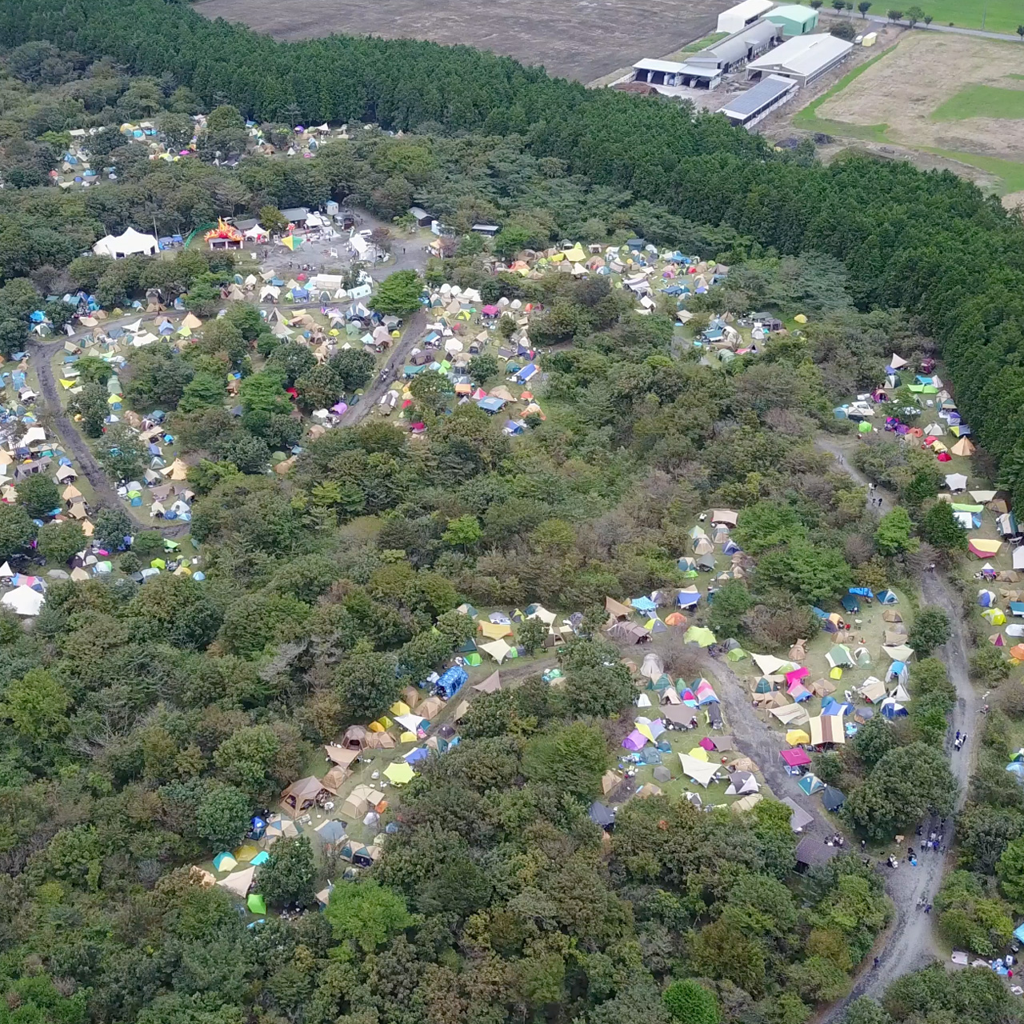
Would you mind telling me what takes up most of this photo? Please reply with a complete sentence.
The bulk of the photo consists of trees.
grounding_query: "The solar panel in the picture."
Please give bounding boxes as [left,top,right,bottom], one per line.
[720,78,793,117]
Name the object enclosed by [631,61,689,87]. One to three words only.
shed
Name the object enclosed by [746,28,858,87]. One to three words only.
barn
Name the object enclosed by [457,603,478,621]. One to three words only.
tent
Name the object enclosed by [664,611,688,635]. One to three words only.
tent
